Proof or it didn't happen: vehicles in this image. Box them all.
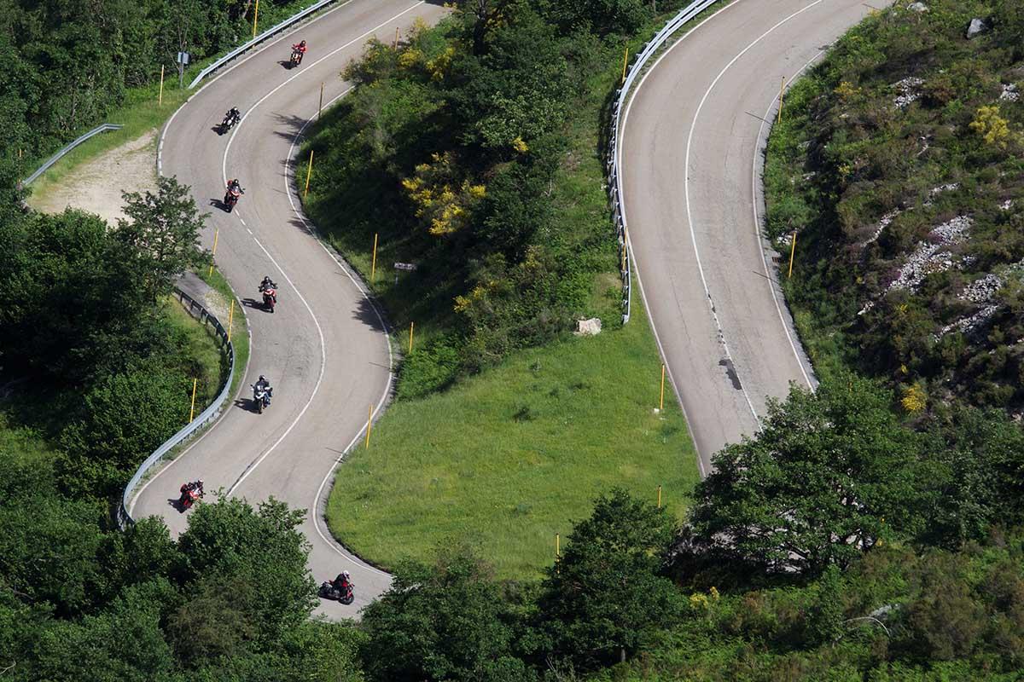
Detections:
[221,114,239,136]
[225,187,243,212]
[317,571,356,605]
[180,484,207,517]
[288,46,303,67]
[259,289,277,316]
[249,387,269,418]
